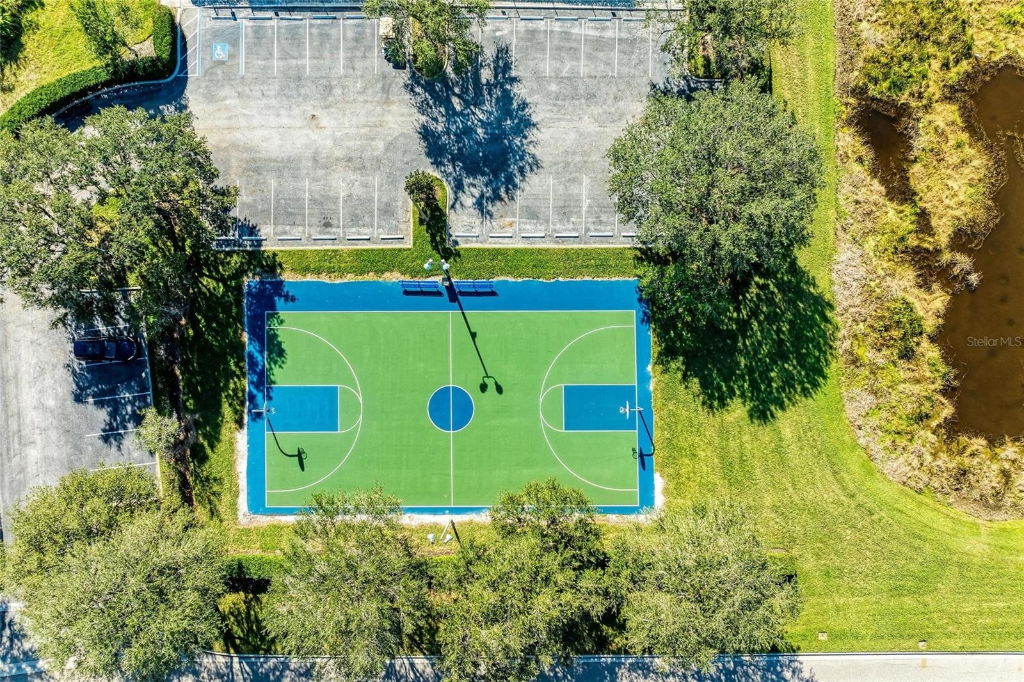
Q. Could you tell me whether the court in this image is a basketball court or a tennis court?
basketball court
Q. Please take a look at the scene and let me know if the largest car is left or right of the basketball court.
to the left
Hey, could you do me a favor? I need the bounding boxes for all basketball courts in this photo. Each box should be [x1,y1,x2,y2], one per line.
[247,277,655,515]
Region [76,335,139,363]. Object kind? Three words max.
car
